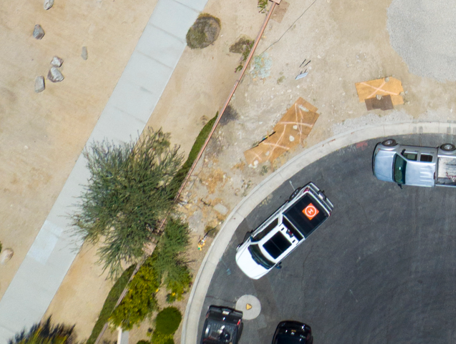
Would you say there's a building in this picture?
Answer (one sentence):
No, no building can be seen from above.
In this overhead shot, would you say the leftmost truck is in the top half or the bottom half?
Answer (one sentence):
Seen from above, the leftmost truck lies in the bottom half of the view.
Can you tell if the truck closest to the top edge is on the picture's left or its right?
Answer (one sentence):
The truck closest to the top edge appears in the right half of the scene.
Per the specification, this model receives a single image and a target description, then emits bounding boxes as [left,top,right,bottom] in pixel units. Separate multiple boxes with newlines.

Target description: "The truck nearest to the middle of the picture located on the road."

[243,179,337,272]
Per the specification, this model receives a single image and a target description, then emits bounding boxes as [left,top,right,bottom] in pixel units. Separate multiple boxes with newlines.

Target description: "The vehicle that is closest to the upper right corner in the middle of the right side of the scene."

[370,138,456,191]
